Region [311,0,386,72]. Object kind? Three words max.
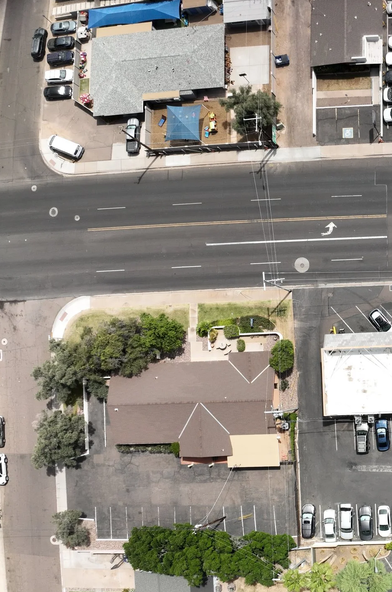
building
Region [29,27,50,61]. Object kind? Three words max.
car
